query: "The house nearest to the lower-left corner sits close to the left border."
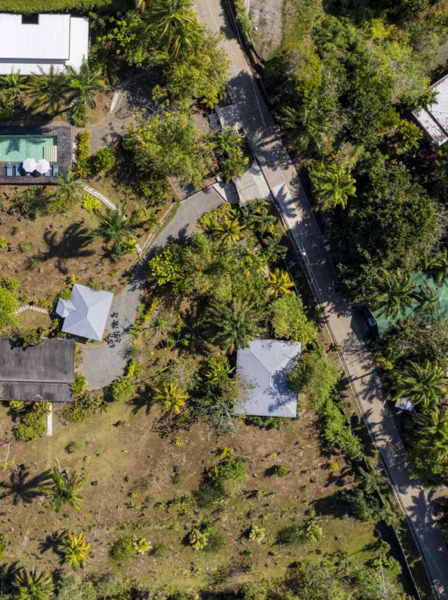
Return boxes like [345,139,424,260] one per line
[0,338,76,403]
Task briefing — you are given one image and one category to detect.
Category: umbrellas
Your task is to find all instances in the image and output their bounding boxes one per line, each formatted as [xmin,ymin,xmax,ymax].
[21,157,37,174]
[37,159,50,173]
